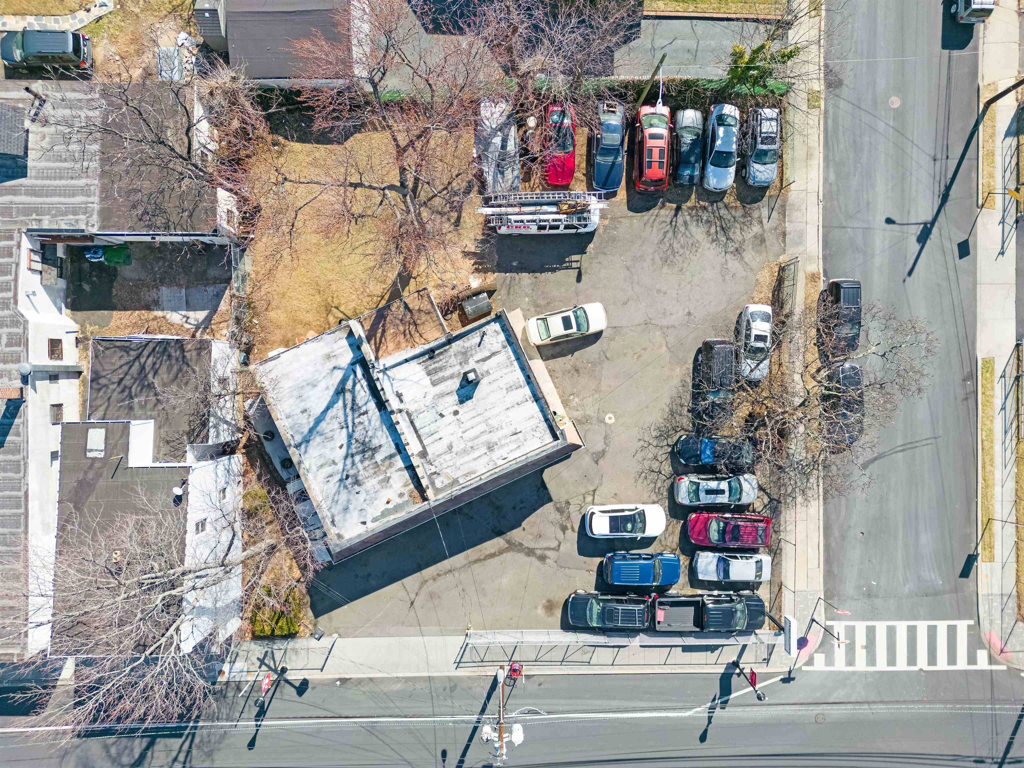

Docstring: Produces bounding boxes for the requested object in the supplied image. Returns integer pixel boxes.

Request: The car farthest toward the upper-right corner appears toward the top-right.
[945,0,993,24]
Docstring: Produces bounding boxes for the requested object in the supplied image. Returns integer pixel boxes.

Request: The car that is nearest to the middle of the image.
[525,302,607,347]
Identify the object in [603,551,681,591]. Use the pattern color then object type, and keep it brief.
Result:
blue car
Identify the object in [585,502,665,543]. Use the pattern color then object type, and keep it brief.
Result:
white car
